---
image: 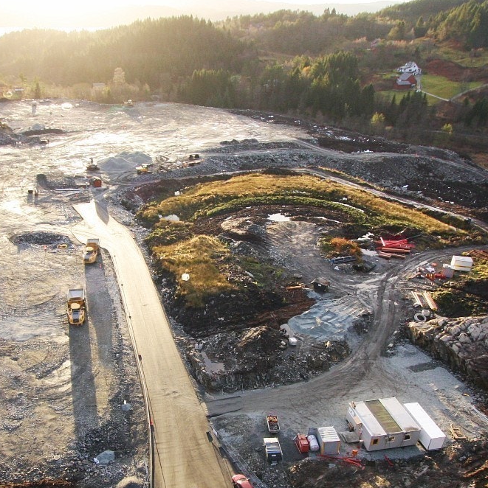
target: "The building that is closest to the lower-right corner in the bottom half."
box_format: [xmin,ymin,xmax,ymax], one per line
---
[347,398,422,455]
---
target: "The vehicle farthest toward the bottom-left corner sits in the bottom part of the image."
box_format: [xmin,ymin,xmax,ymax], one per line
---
[65,288,87,326]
